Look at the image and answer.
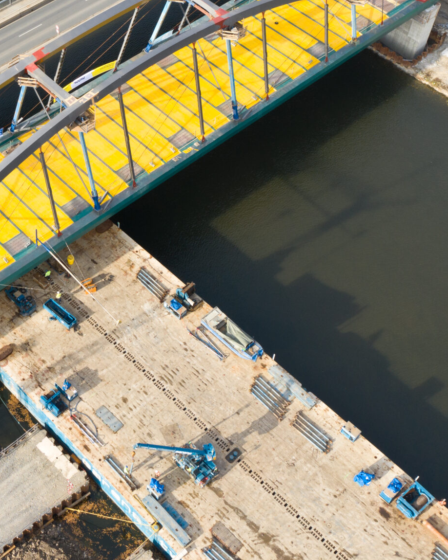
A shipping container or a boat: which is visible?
boat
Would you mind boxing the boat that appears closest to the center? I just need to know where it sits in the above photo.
[200,306,262,361]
